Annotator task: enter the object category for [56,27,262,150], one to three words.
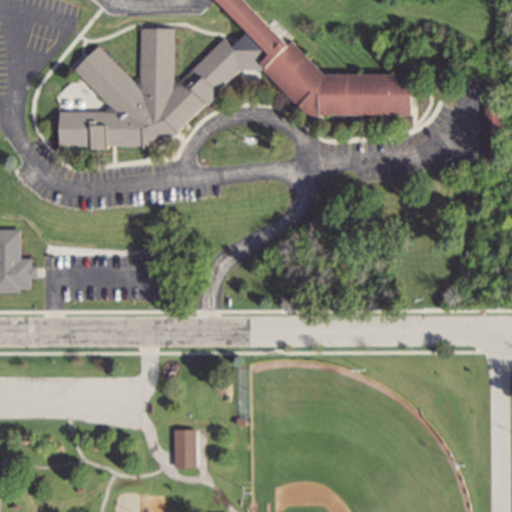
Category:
building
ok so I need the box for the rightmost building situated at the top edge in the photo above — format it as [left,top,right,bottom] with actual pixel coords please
[212,0,410,118]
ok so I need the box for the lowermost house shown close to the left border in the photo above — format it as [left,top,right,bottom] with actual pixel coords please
[0,230,36,294]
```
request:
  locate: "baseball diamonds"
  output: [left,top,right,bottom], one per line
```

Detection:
[250,358,474,512]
